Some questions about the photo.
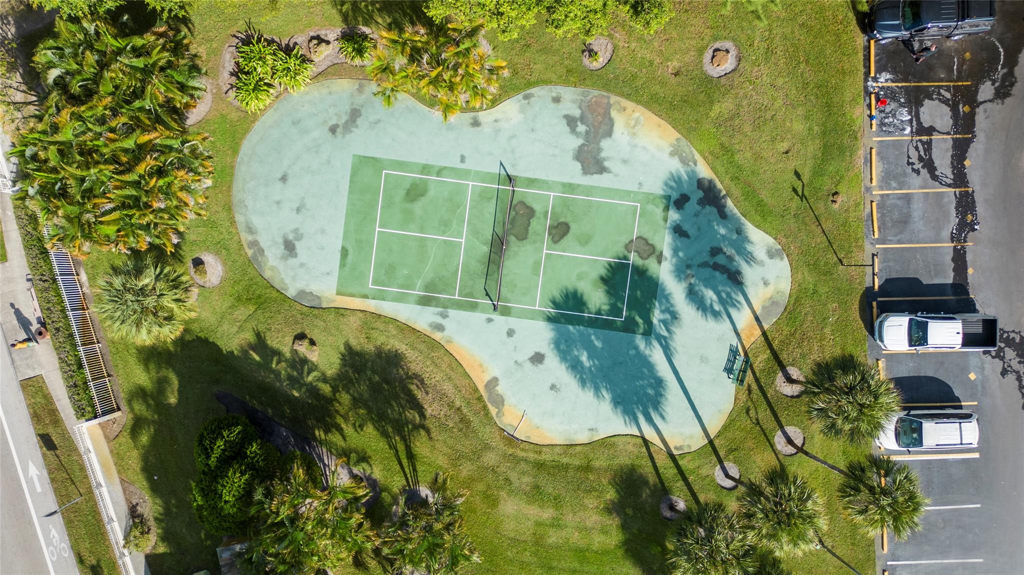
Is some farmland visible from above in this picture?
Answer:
No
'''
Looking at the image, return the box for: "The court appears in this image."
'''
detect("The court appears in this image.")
[232,78,791,454]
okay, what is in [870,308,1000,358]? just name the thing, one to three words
truck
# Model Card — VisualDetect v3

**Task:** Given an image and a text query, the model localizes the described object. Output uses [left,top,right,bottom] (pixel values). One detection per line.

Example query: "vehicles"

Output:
[869,407,979,456]
[863,0,996,41]
[870,308,1000,358]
